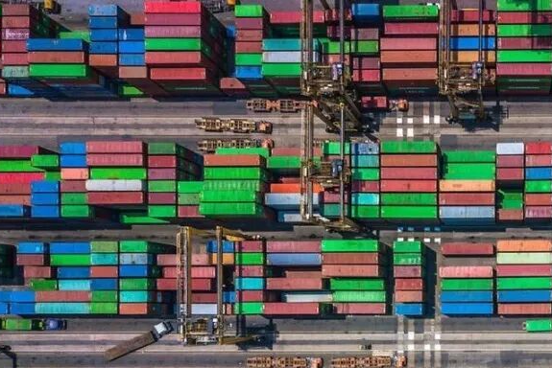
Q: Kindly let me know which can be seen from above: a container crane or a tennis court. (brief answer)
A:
container crane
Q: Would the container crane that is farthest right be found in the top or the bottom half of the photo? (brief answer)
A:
top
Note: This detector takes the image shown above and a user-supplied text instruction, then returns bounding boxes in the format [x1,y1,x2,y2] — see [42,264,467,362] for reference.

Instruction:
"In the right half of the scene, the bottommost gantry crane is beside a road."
[298,99,372,238]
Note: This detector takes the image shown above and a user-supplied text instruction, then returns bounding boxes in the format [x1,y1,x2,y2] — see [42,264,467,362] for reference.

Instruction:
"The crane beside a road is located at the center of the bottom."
[174,219,265,352]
